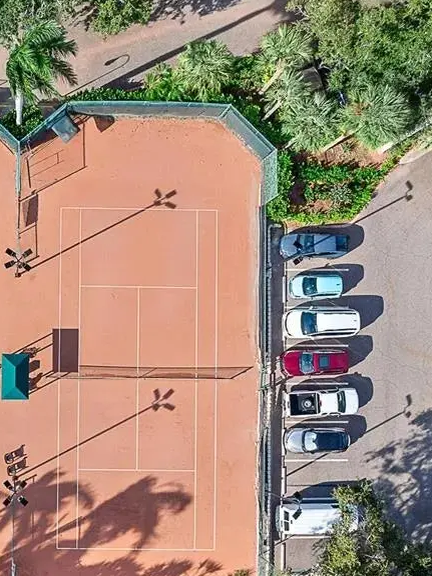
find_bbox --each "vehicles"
[279,346,348,378]
[281,385,359,418]
[276,499,368,537]
[278,227,350,260]
[287,271,344,299]
[283,425,349,456]
[281,304,358,338]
